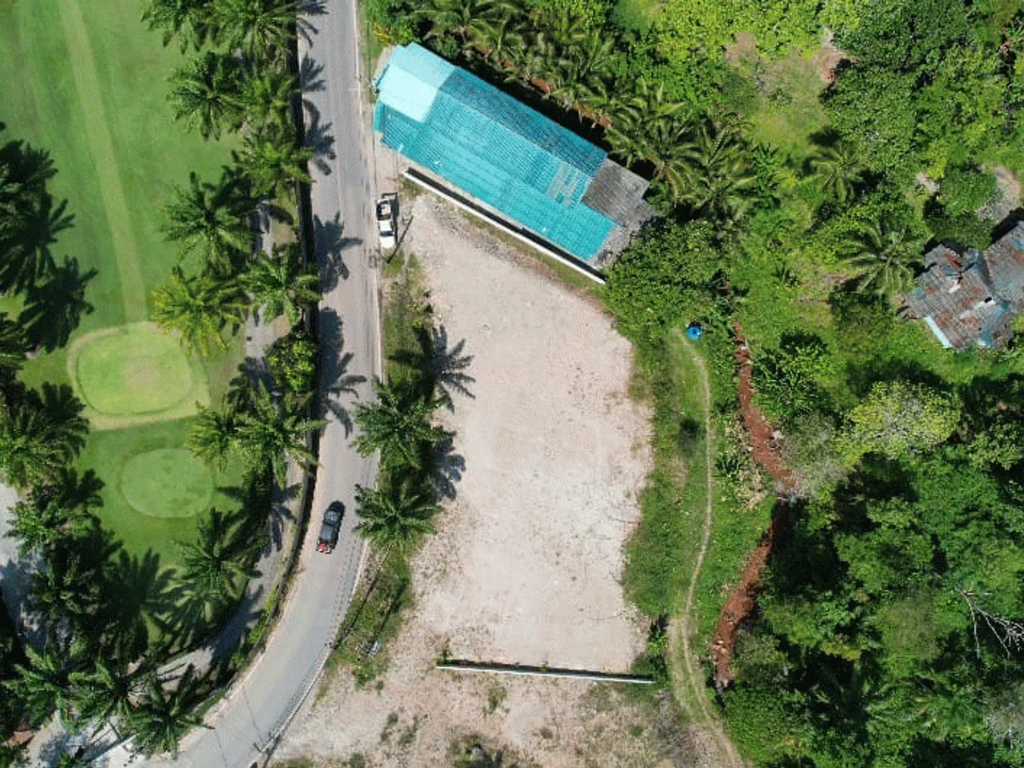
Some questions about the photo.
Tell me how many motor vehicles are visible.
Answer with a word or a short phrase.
two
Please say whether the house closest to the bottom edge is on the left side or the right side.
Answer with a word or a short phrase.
right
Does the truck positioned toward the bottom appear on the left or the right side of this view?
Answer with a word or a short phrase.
left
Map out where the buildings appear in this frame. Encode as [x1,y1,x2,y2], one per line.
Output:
[375,38,610,263]
[898,218,1024,351]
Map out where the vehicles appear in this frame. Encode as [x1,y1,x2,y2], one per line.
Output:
[314,498,346,552]
[376,198,397,251]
